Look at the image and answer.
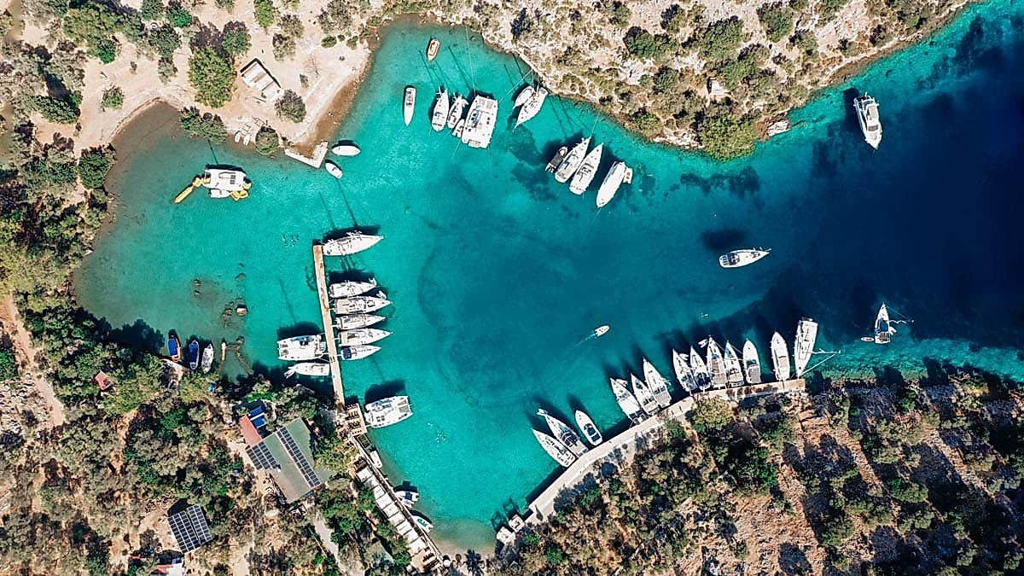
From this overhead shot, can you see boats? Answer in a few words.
Yes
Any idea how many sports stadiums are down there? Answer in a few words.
0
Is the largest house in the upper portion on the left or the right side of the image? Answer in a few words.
left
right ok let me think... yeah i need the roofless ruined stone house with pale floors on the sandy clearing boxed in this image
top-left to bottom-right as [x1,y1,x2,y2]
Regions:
[241,61,284,102]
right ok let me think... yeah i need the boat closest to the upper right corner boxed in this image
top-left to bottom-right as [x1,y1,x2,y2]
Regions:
[855,93,879,149]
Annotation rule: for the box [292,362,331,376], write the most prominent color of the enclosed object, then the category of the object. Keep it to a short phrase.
white boat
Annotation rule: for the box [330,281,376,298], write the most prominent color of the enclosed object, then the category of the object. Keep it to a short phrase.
white boat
